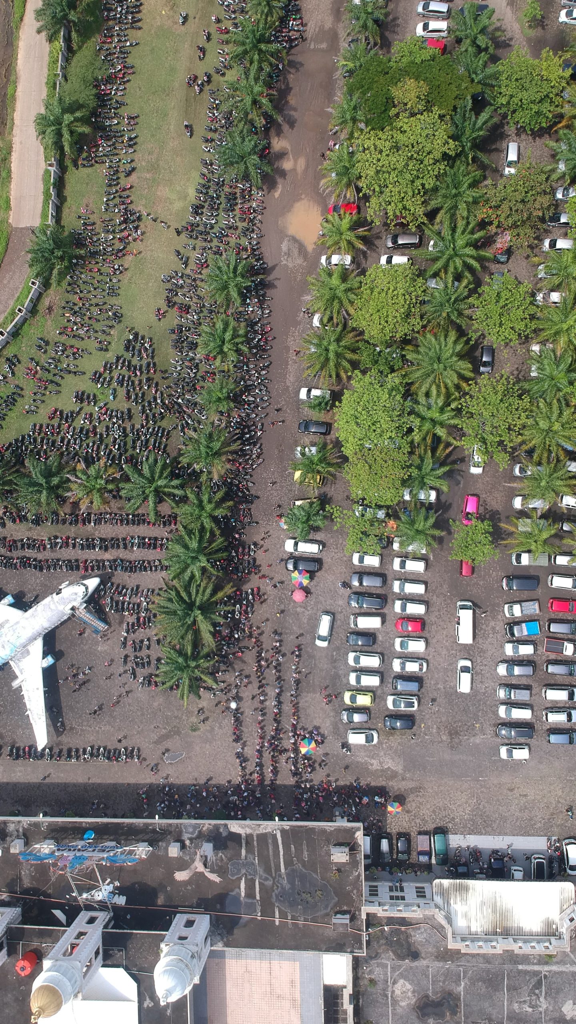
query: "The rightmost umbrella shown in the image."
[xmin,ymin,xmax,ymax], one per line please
[387,799,402,815]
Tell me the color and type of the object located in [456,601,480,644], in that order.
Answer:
white vehicle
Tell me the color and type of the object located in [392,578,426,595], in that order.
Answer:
white car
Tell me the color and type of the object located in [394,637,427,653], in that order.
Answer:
white car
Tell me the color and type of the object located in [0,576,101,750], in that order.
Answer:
white airplane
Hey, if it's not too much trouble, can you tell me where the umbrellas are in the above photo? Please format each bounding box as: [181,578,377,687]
[387,799,402,815]
[280,516,290,529]
[300,737,317,754]
[292,569,310,587]
[293,589,306,602]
